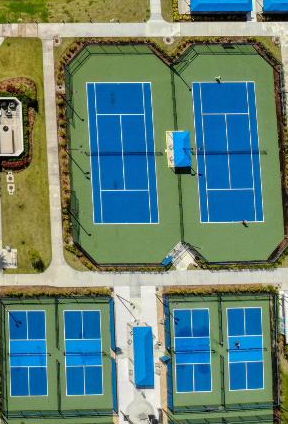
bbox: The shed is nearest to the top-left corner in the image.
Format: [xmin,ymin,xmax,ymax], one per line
[1,128,16,153]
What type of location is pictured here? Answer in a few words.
sports ground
